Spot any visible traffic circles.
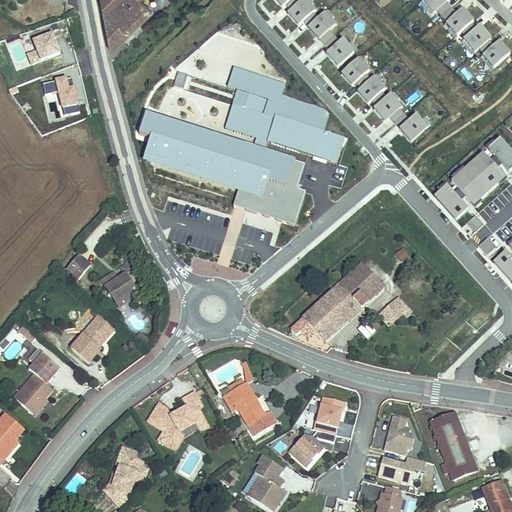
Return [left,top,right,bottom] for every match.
[179,274,252,344]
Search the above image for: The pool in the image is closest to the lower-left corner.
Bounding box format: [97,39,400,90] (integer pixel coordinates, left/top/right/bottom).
[64,472,88,494]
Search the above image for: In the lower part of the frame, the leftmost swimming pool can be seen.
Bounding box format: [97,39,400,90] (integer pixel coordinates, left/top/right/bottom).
[4,340,22,360]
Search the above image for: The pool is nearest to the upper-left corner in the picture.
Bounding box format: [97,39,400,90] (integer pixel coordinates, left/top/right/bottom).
[10,43,26,63]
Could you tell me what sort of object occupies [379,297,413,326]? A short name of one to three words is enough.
shed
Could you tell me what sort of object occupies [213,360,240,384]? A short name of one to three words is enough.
swimming pool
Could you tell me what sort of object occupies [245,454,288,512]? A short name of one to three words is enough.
house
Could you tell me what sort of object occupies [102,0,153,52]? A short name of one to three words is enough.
barn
